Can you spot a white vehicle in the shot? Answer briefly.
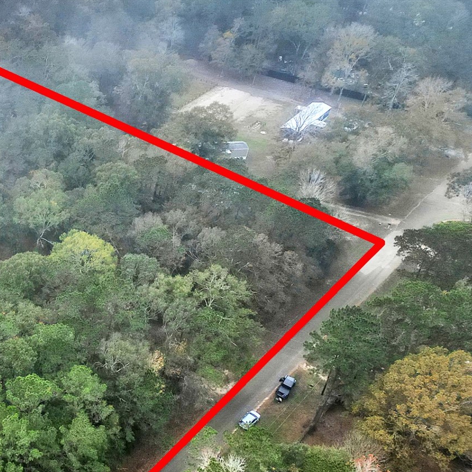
Yes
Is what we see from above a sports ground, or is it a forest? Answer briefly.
forest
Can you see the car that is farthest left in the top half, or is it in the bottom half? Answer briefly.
bottom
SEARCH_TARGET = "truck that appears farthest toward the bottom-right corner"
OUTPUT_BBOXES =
[275,377,297,401]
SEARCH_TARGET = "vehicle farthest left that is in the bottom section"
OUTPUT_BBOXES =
[239,411,261,434]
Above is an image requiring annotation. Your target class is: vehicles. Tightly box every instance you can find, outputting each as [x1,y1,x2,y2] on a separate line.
[239,411,261,434]
[275,377,297,401]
